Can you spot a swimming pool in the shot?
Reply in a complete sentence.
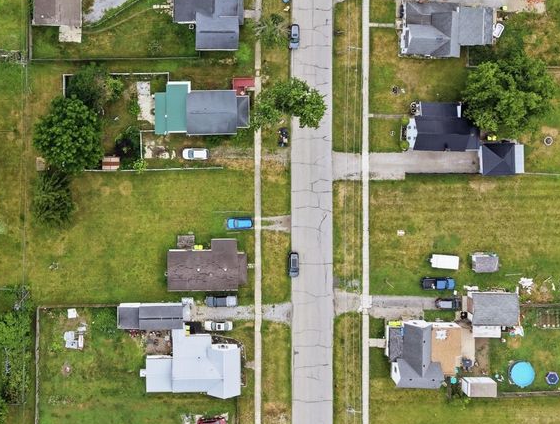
Yes, a swimming pool is visible in the scene.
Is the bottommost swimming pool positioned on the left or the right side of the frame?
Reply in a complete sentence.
The bottommost swimming pool is on the right side of the image.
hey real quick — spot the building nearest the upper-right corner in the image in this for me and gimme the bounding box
[400,3,494,58]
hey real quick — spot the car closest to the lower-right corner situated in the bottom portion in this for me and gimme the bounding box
[435,298,461,311]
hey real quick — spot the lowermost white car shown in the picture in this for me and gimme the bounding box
[205,319,233,333]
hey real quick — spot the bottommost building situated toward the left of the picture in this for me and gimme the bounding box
[140,328,241,400]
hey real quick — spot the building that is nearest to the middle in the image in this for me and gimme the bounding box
[167,235,247,292]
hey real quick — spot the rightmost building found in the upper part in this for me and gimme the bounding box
[475,142,525,175]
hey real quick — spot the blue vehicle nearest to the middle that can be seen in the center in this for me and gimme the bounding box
[226,217,253,231]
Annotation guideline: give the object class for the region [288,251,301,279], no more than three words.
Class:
vehicle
